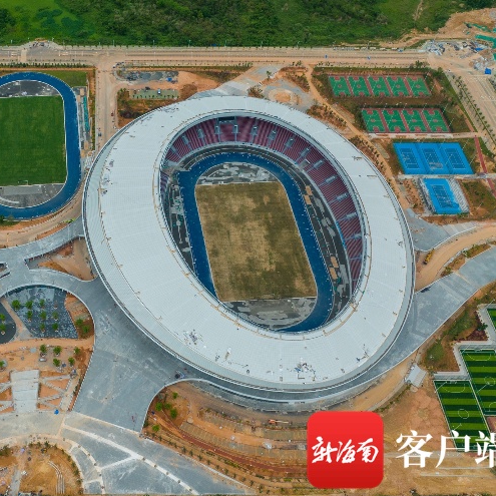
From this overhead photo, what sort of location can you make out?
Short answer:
sports ground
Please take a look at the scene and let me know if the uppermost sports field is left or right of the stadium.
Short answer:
left of it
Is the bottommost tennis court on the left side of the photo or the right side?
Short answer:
right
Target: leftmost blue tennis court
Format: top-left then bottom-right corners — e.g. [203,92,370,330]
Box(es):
[393,143,429,174]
